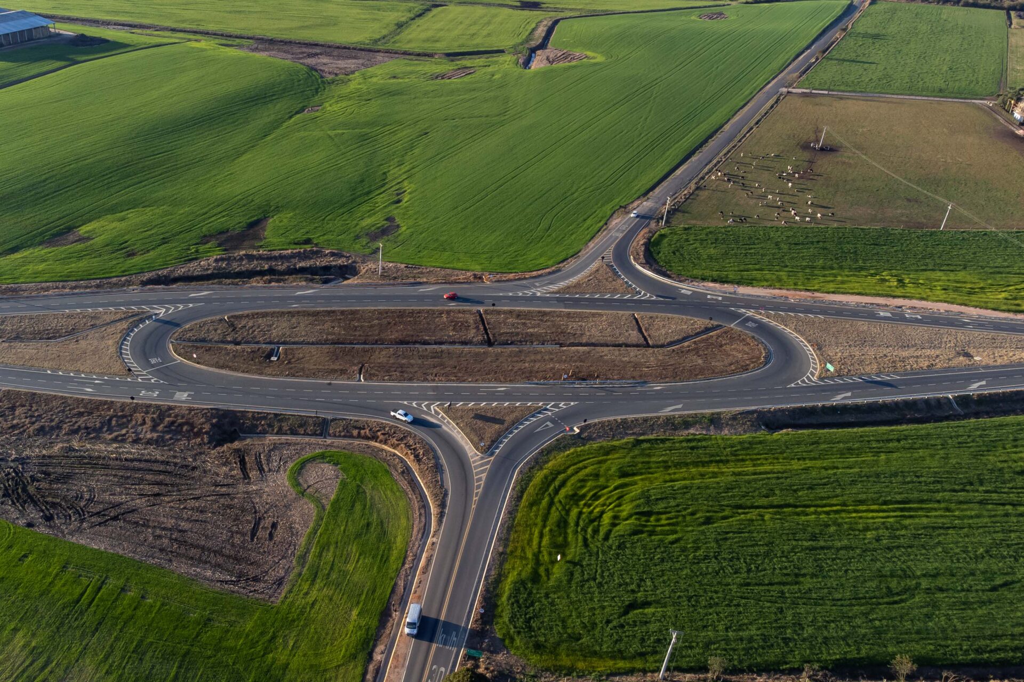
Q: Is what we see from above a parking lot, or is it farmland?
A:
farmland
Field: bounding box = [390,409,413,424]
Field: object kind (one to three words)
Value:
vehicle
